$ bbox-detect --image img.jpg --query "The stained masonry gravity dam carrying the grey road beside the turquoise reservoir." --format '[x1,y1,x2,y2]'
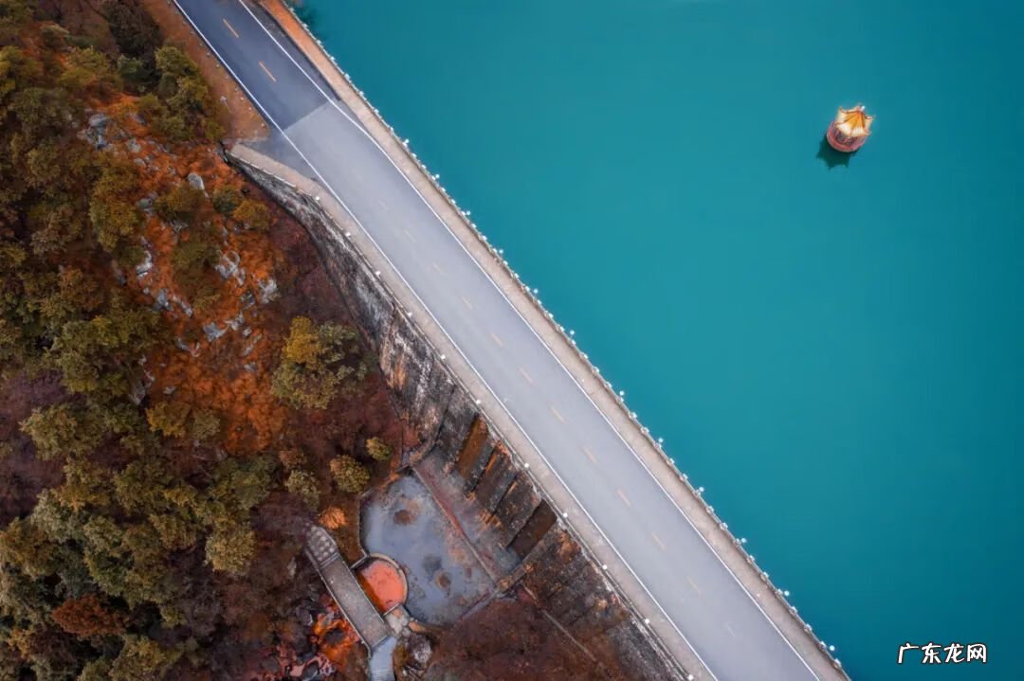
[225,0,853,681]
